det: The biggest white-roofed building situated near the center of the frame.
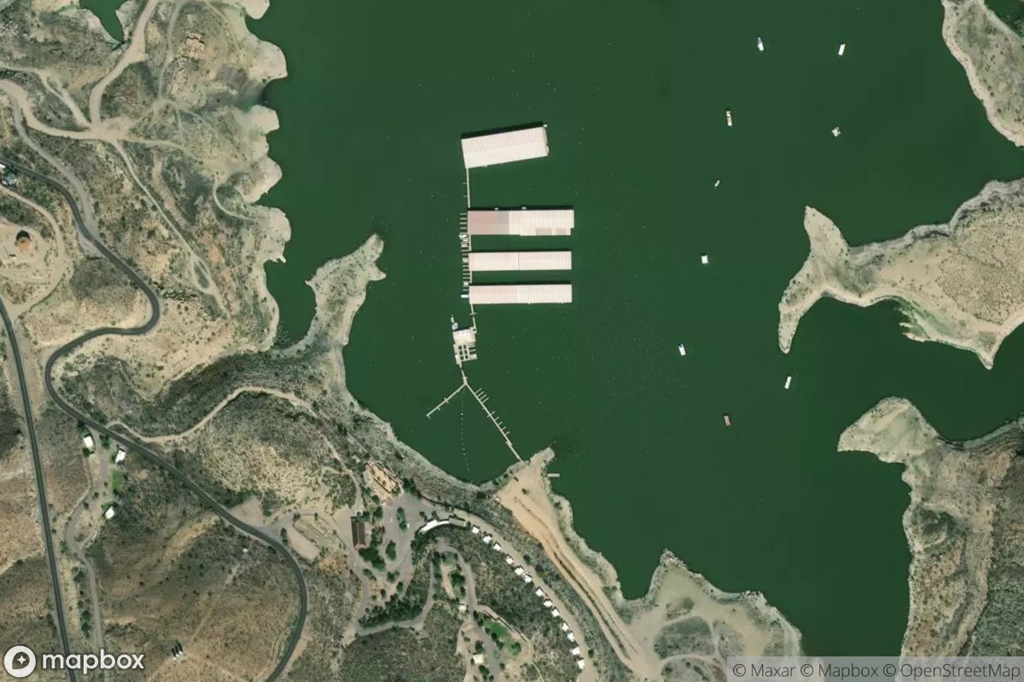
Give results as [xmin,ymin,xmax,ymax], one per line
[453,329,478,363]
